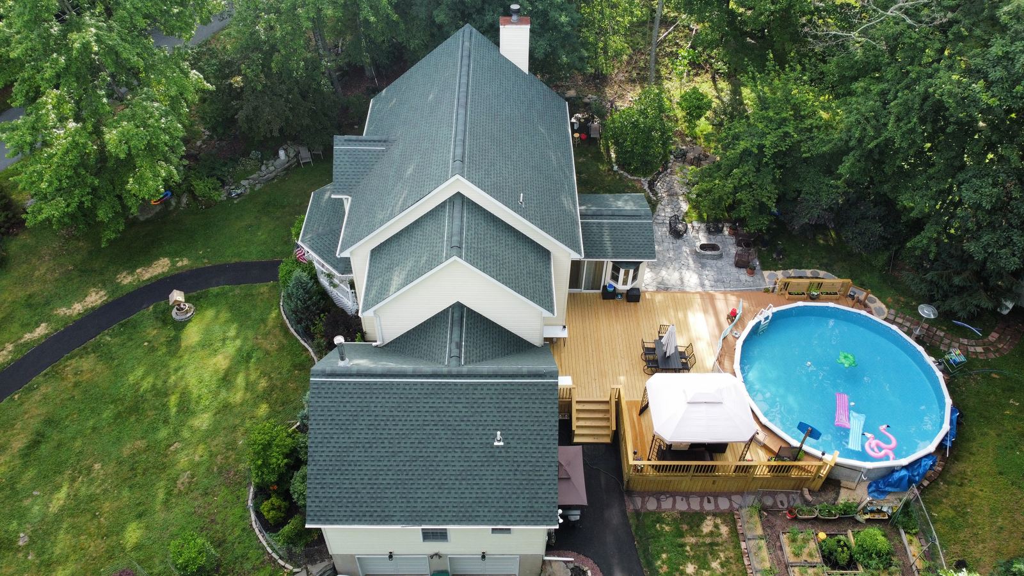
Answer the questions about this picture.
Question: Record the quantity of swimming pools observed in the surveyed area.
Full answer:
In total, there is 1 swimming pool in the scene.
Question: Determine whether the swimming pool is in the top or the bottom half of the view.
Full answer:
It is in the bottom half that the swimming pool appears.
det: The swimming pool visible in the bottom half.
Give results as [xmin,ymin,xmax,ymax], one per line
[736,302,951,484]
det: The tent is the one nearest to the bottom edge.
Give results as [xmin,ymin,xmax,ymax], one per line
[558,446,586,536]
